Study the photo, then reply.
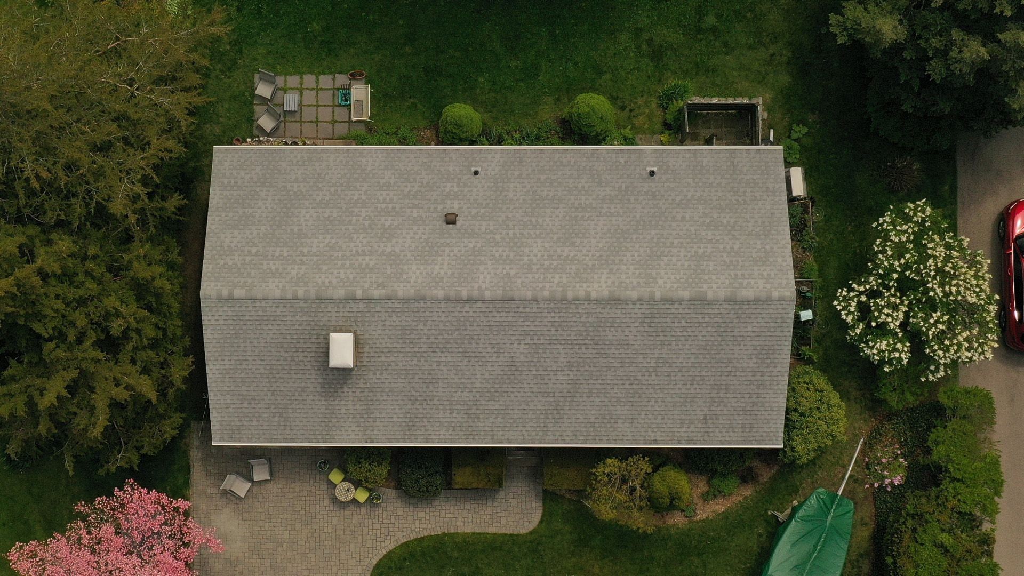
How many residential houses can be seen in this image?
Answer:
1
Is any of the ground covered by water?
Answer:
No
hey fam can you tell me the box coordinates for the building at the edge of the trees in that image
[199,145,796,447]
